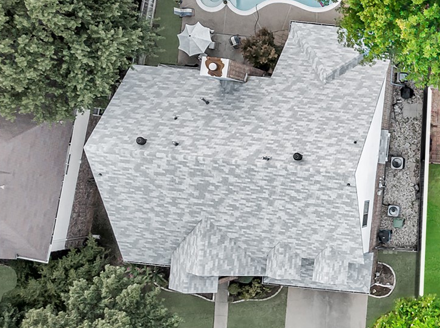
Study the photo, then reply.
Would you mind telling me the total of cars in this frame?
0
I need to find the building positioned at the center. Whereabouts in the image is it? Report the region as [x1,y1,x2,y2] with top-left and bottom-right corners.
[85,20,392,295]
